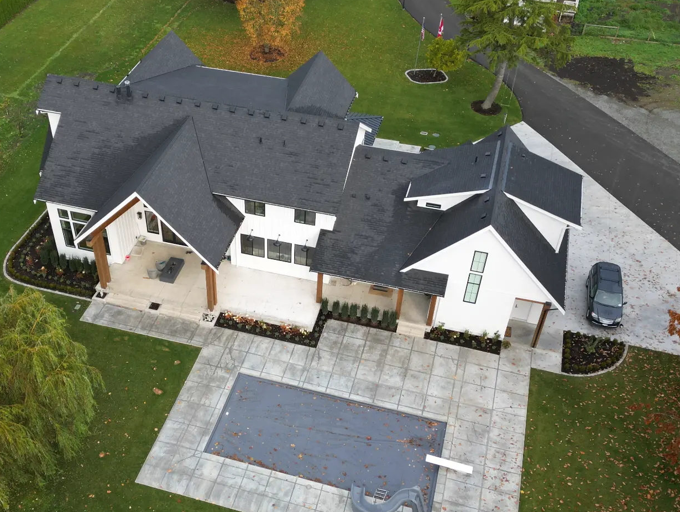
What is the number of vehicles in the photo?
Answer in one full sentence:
The picture shows just 1 vehicle.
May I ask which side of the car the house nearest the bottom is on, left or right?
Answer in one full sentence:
Looking at the photo, the house nearest the bottom lies to the left of the car.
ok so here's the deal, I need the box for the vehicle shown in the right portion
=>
[586,261,629,330]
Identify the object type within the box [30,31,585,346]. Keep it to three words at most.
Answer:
house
